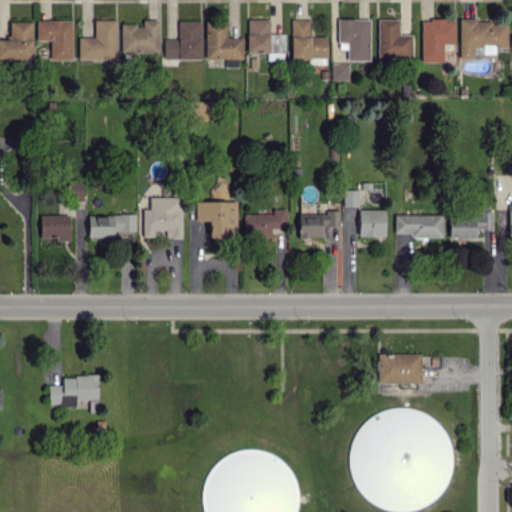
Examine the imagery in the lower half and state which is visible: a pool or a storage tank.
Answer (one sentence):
There is a storage tank in the lower half.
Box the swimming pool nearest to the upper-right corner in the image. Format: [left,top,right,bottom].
[464,60,495,74]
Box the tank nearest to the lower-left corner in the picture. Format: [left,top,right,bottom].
[203,450,302,512]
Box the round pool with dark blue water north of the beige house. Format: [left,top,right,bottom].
[151,162,168,180]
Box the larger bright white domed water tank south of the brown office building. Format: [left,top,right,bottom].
[350,408,455,512]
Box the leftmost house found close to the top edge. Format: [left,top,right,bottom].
[0,22,35,61]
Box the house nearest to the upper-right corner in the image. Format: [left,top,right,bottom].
[461,20,512,59]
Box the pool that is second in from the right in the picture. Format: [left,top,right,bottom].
[302,186,320,204]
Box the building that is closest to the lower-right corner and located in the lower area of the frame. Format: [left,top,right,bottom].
[379,354,423,384]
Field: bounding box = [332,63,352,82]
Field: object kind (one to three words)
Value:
building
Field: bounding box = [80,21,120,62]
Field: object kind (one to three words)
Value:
house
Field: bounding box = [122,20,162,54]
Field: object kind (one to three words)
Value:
house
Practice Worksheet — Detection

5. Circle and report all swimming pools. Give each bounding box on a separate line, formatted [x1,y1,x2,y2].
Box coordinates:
[464,60,495,74]
[302,186,320,204]
[151,162,168,180]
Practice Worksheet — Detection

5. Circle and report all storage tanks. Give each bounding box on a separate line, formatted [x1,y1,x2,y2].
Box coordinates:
[203,450,302,512]
[350,408,455,512]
